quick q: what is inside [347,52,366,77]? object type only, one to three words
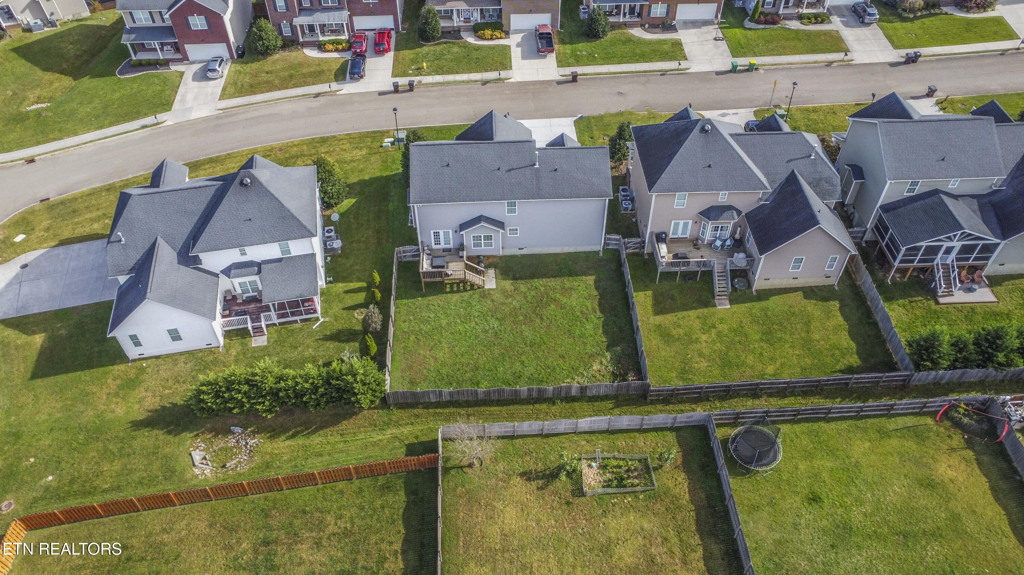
car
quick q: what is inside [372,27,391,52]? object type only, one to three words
car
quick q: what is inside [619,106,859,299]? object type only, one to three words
house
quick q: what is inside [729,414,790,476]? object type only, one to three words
trampoline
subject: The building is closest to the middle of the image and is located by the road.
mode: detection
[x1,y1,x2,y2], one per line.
[403,106,613,291]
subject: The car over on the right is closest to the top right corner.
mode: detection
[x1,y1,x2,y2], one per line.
[853,0,880,21]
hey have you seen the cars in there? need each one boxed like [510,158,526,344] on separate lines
[350,28,367,52]
[203,52,228,76]
[740,113,762,131]
[372,27,391,52]
[853,0,880,21]
[347,52,366,77]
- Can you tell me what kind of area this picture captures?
residential area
